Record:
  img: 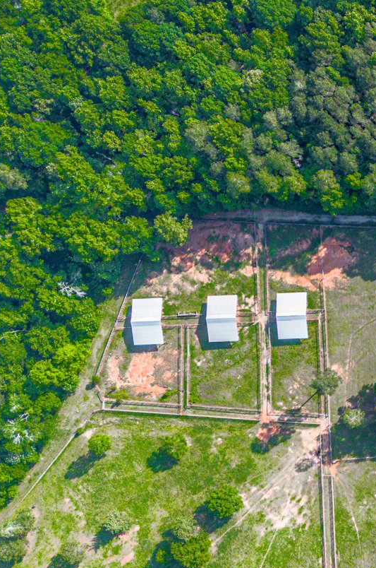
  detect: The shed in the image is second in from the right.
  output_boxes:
[206,294,240,342]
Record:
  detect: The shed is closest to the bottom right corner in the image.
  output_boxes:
[276,292,309,339]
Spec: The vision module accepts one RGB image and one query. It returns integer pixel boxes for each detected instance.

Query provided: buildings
[276,292,309,339]
[206,294,240,342]
[130,298,166,345]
